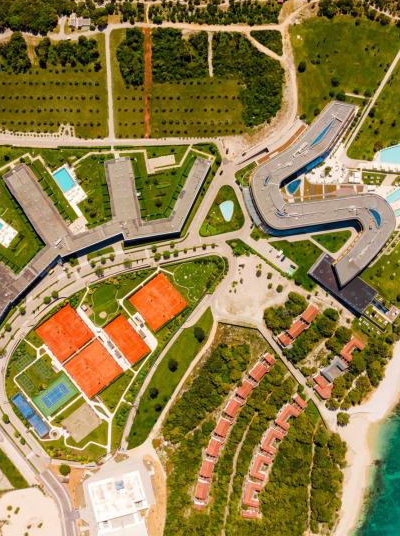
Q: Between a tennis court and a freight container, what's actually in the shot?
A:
tennis court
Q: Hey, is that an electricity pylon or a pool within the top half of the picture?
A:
pool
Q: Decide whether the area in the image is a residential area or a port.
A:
residential area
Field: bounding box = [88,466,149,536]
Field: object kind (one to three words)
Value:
building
